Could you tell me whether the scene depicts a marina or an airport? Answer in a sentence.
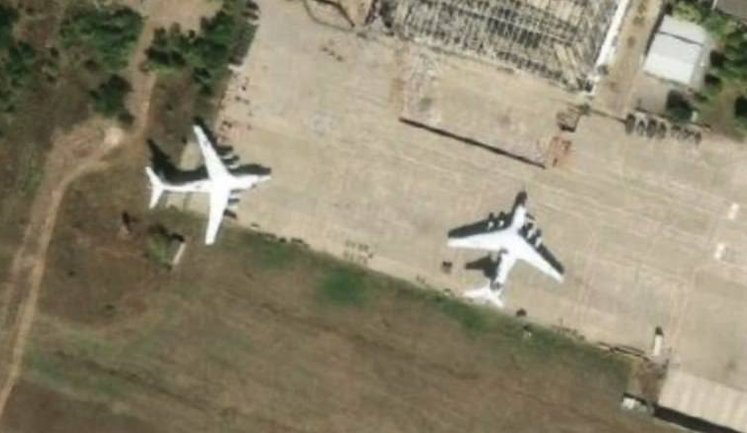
It's an airport.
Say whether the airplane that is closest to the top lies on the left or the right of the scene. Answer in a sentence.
The airplane that is closest to the top is on the left side of the image.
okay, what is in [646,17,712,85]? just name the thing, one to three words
house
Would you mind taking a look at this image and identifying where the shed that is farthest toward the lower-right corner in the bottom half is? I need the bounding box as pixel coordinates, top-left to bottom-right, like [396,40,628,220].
[656,370,747,433]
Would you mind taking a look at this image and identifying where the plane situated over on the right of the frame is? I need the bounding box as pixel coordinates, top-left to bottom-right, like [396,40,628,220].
[445,197,562,308]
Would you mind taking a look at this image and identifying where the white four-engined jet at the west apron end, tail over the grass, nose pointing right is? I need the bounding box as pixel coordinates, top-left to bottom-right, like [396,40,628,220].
[150,127,272,245]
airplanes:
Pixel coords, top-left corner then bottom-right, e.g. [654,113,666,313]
[445,197,562,308]
[150,127,272,245]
